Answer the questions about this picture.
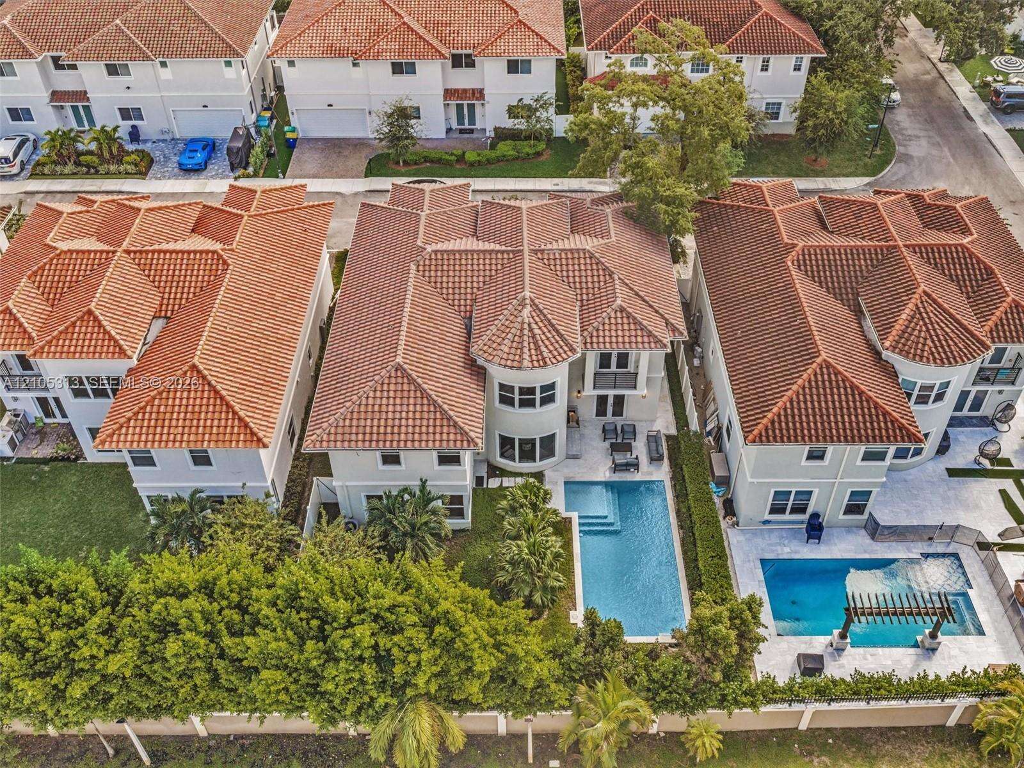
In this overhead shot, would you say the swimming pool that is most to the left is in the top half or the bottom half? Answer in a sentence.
The swimming pool that is most to the left sits in the bottom half of the picture.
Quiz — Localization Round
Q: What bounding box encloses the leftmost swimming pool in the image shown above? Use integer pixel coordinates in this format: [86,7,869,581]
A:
[565,478,688,634]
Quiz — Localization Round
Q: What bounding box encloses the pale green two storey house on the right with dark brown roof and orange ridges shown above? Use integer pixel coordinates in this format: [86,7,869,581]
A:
[681,178,1024,528]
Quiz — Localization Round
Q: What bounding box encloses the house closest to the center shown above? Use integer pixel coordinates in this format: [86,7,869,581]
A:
[302,179,691,529]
